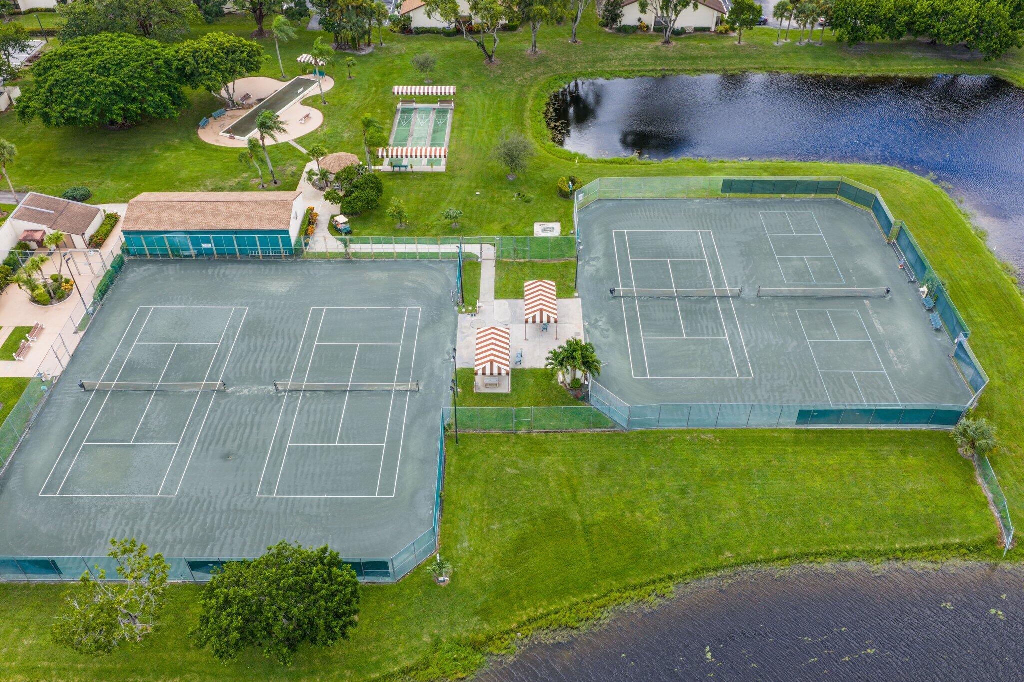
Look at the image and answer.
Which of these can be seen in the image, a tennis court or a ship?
tennis court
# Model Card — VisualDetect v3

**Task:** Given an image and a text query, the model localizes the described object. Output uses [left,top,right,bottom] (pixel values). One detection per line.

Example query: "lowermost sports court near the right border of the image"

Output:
[760,296,977,430]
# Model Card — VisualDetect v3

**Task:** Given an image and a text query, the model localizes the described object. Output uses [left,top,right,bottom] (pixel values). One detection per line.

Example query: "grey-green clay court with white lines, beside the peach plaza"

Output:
[0,259,296,580]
